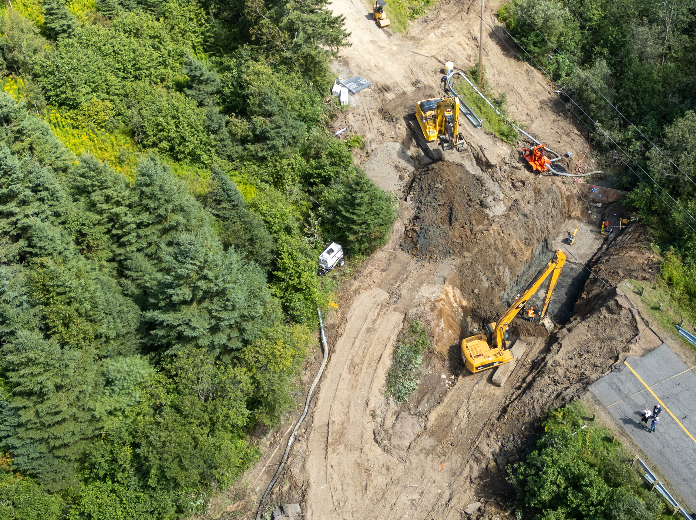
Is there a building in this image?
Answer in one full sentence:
No, the photo shows no building.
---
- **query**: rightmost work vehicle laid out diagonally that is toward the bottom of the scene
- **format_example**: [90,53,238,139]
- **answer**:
[460,248,566,388]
